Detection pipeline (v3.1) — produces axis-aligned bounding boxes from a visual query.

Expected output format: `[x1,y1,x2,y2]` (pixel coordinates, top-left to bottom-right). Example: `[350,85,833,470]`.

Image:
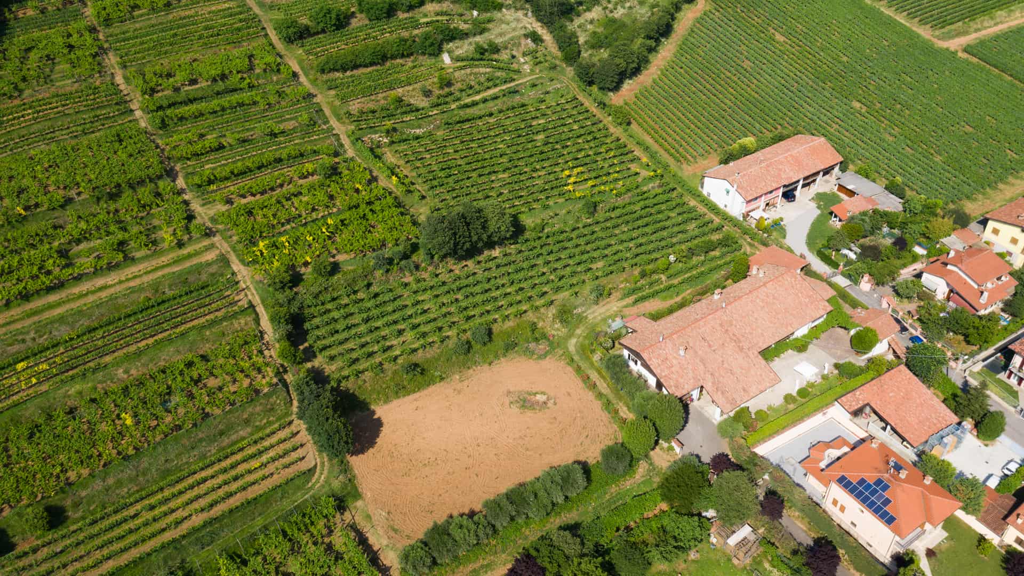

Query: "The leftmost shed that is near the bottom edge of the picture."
[721,522,762,574]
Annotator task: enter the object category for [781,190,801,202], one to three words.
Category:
vehicle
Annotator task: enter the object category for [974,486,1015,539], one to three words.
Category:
shed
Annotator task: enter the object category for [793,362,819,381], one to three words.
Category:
umbrella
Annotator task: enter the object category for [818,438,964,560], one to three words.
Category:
house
